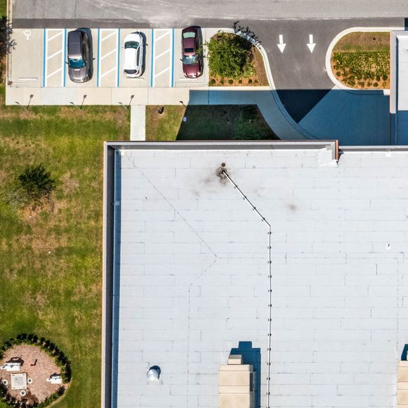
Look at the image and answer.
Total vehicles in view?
3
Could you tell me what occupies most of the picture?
buildings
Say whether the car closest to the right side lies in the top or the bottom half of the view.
top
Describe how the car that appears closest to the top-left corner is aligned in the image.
vertically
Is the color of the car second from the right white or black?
white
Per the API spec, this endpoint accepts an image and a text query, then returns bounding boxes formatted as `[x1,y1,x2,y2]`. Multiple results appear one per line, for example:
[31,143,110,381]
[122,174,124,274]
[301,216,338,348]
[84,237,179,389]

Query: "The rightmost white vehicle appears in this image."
[121,33,146,80]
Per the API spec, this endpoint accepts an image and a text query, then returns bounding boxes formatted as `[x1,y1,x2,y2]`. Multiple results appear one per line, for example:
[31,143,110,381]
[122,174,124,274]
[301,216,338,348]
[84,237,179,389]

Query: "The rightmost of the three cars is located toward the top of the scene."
[180,27,205,79]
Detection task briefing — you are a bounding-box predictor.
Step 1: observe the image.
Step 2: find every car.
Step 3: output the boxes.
[121,33,146,80]
[180,27,205,79]
[65,30,92,82]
